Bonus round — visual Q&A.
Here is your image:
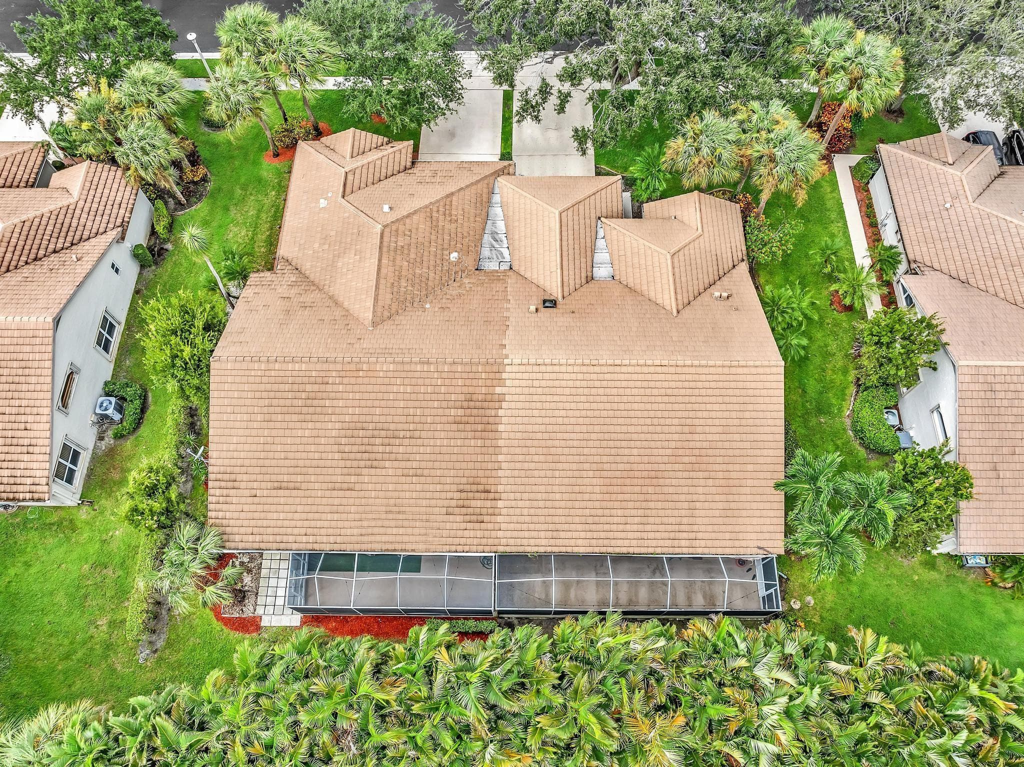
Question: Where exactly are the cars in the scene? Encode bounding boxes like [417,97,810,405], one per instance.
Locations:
[961,131,1008,161]
[1006,136,1024,161]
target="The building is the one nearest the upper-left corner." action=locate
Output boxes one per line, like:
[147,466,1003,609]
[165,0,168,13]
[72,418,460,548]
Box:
[0,142,155,512]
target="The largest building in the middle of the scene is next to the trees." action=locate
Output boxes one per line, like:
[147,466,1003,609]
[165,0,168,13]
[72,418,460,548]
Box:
[206,125,790,581]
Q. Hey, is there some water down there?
No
